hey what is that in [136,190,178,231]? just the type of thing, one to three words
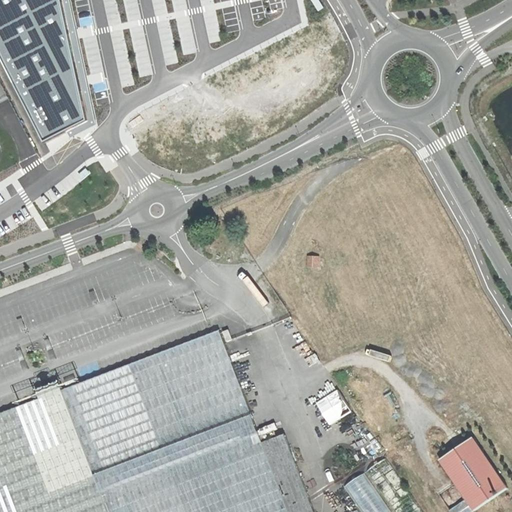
roundabout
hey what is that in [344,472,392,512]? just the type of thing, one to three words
greenhouse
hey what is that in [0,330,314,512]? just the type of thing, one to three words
building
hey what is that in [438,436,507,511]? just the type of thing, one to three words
house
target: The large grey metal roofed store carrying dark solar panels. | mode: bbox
[0,0,84,138]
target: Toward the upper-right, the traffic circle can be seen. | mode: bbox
[362,28,460,127]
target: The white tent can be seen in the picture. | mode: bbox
[316,390,351,425]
